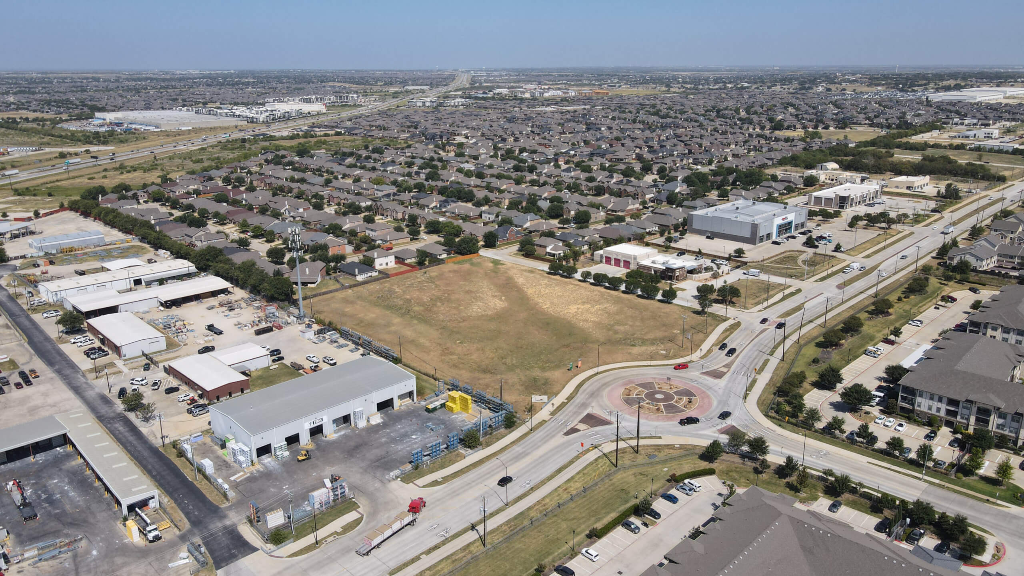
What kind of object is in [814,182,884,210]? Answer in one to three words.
building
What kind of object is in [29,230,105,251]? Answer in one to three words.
shed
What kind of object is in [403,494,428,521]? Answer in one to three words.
truck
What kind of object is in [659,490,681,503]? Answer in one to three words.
vehicle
